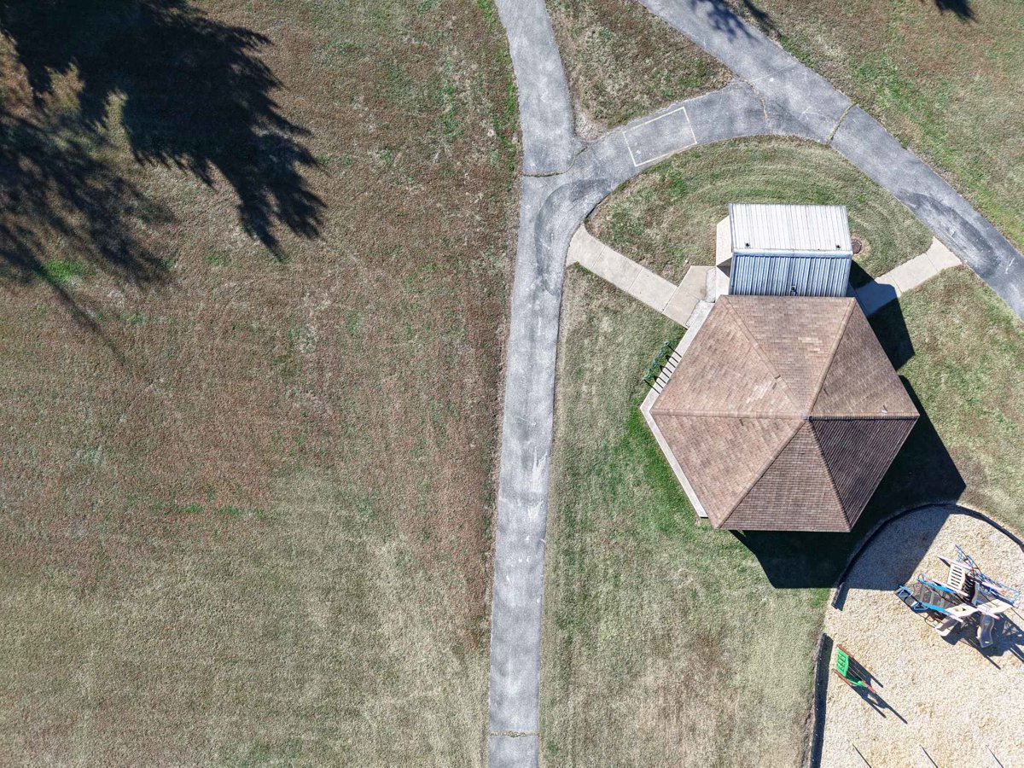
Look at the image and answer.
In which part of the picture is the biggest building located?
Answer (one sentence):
The biggest building is in the right part of the image.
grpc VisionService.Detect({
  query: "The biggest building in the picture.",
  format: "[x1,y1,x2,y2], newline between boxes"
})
[640,294,921,533]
